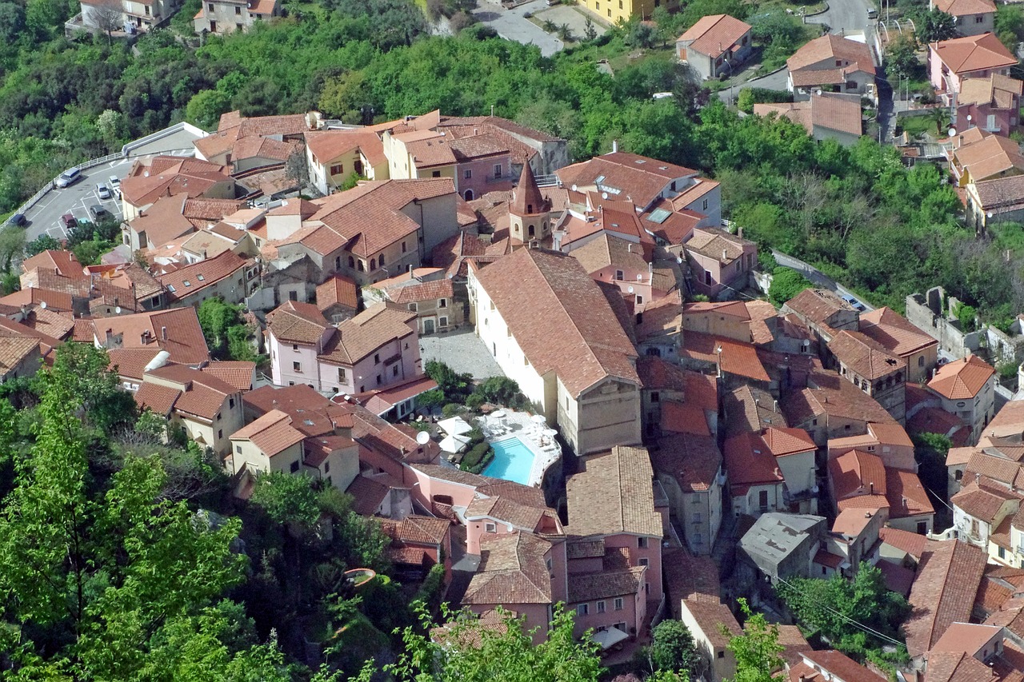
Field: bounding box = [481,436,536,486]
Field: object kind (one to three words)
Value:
swimming pool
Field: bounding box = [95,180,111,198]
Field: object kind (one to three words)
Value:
car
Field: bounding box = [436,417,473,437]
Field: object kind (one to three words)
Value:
umbrella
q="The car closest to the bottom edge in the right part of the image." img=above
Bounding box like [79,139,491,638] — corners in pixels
[841,288,868,311]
